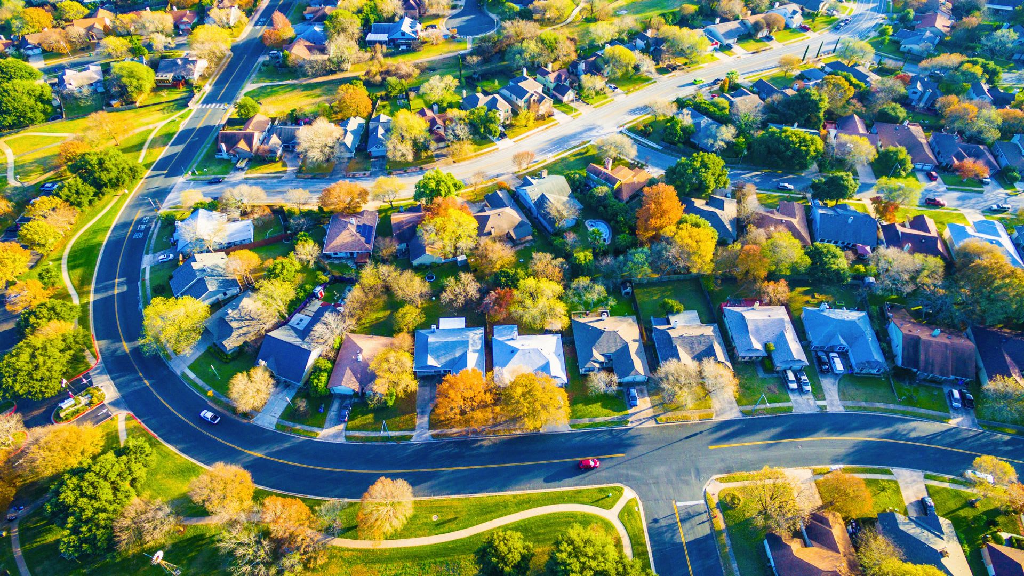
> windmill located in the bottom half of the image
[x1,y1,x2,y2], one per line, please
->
[144,547,186,576]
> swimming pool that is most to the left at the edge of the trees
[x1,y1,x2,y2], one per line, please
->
[586,220,611,244]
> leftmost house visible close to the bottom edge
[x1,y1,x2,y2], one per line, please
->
[759,512,863,576]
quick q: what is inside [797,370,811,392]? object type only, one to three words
vehicle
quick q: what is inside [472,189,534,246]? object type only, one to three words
house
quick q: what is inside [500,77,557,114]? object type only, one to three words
house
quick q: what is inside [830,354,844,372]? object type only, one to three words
car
